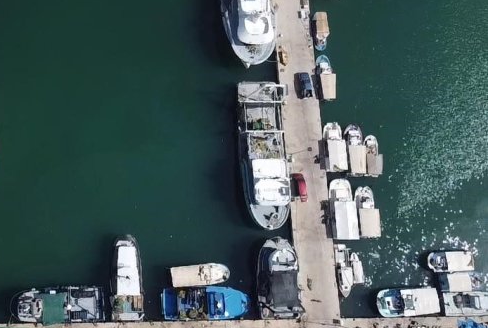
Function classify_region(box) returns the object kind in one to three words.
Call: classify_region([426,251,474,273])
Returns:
boat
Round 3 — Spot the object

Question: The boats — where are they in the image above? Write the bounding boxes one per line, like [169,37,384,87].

[368,288,443,321]
[219,0,276,69]
[349,251,363,283]
[426,251,474,273]
[108,236,149,324]
[313,55,337,105]
[334,244,353,298]
[312,11,329,53]
[343,124,366,179]
[233,78,310,235]
[152,284,248,324]
[317,118,347,174]
[363,135,383,179]
[325,179,359,244]
[353,186,381,238]
[10,282,104,324]
[169,262,229,288]
[253,237,309,320]
[437,272,482,293]
[440,292,488,317]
